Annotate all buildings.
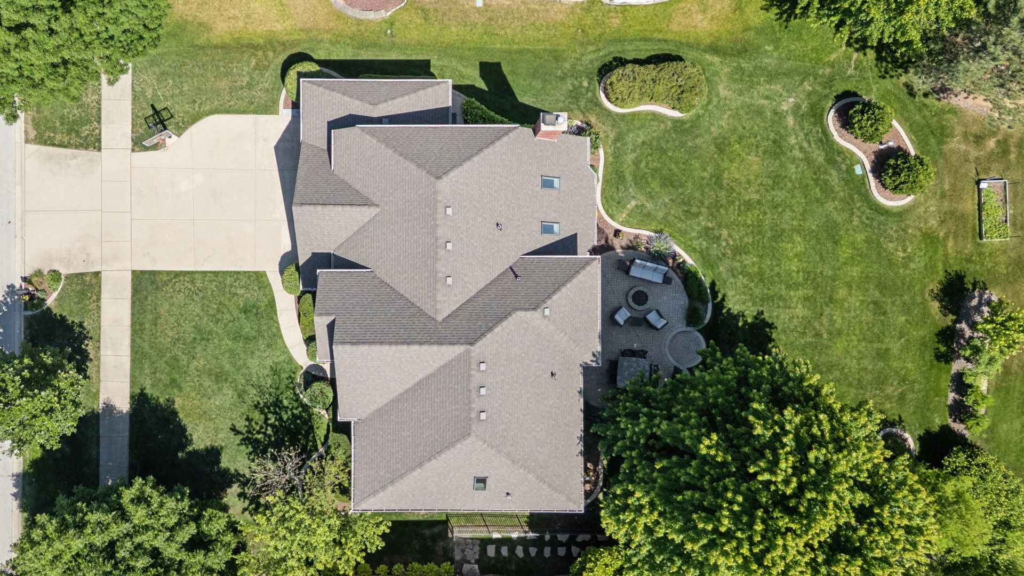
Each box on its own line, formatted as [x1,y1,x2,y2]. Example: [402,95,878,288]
[292,77,599,512]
